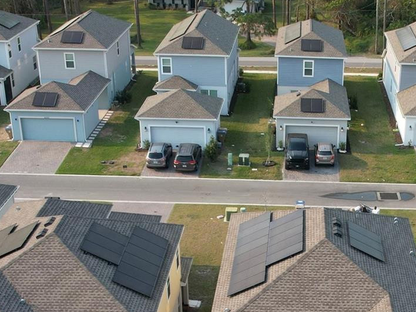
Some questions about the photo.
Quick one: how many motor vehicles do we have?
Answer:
four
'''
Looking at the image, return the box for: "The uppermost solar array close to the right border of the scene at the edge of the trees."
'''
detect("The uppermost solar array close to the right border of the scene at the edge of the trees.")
[396,25,416,49]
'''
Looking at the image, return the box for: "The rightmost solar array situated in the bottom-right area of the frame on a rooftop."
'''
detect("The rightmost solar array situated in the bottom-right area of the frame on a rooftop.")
[349,218,387,259]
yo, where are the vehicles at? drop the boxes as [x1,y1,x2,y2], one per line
[145,138,174,167]
[283,135,311,169]
[311,138,337,164]
[174,141,202,168]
